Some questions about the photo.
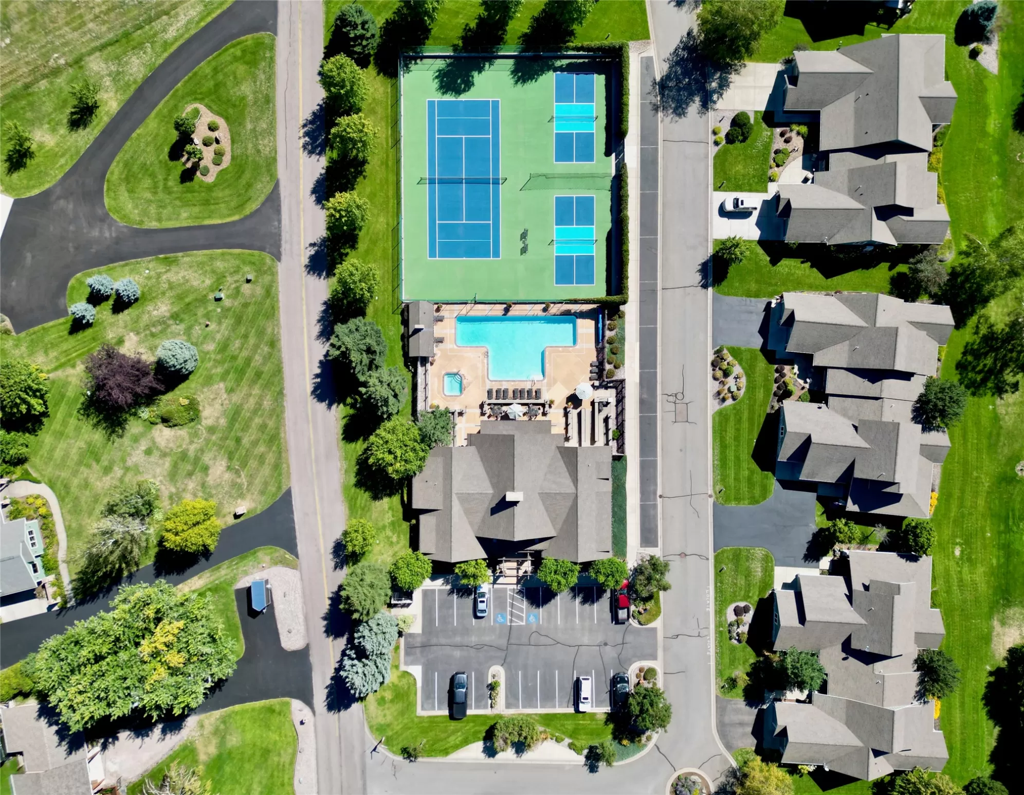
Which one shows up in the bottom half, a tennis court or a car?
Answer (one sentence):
Visible in the bottom half is a car.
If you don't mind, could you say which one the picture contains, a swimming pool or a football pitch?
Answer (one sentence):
Visible in the photo is a swimming pool.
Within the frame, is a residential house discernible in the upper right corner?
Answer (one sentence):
Yes, looking in the upper right corner, one can make out a residential house.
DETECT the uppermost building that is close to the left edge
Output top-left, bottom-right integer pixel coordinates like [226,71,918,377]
[0,518,48,598]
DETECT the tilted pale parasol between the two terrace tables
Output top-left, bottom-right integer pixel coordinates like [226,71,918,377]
[506,403,522,419]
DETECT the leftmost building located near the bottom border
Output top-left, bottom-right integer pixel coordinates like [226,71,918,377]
[1,697,99,795]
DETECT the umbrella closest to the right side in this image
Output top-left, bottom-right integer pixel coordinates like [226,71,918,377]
[576,383,592,399]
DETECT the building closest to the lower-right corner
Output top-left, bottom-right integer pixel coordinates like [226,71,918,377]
[768,549,949,781]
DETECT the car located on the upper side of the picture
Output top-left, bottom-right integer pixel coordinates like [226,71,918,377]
[722,197,757,213]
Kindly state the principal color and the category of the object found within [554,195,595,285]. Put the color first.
blue sports court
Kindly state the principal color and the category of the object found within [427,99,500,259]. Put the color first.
blue tennis court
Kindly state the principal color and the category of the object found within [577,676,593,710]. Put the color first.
white car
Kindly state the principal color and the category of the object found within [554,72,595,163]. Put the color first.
blue sports court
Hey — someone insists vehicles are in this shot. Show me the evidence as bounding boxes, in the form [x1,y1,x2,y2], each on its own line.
[475,583,490,616]
[452,672,469,716]
[722,197,757,213]
[615,578,631,621]
[613,673,628,708]
[577,676,593,710]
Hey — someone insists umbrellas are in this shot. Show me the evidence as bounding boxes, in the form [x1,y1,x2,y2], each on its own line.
[506,403,522,419]
[576,383,592,399]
